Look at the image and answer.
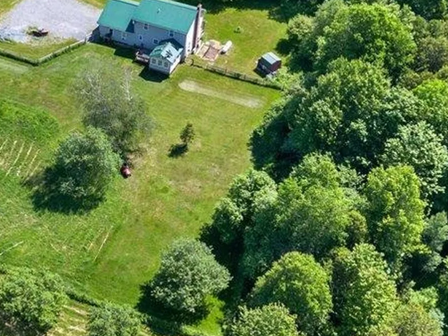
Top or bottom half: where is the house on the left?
top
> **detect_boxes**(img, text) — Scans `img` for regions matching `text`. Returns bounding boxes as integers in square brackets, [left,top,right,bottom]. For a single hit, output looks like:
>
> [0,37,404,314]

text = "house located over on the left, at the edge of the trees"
[97,0,205,75]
